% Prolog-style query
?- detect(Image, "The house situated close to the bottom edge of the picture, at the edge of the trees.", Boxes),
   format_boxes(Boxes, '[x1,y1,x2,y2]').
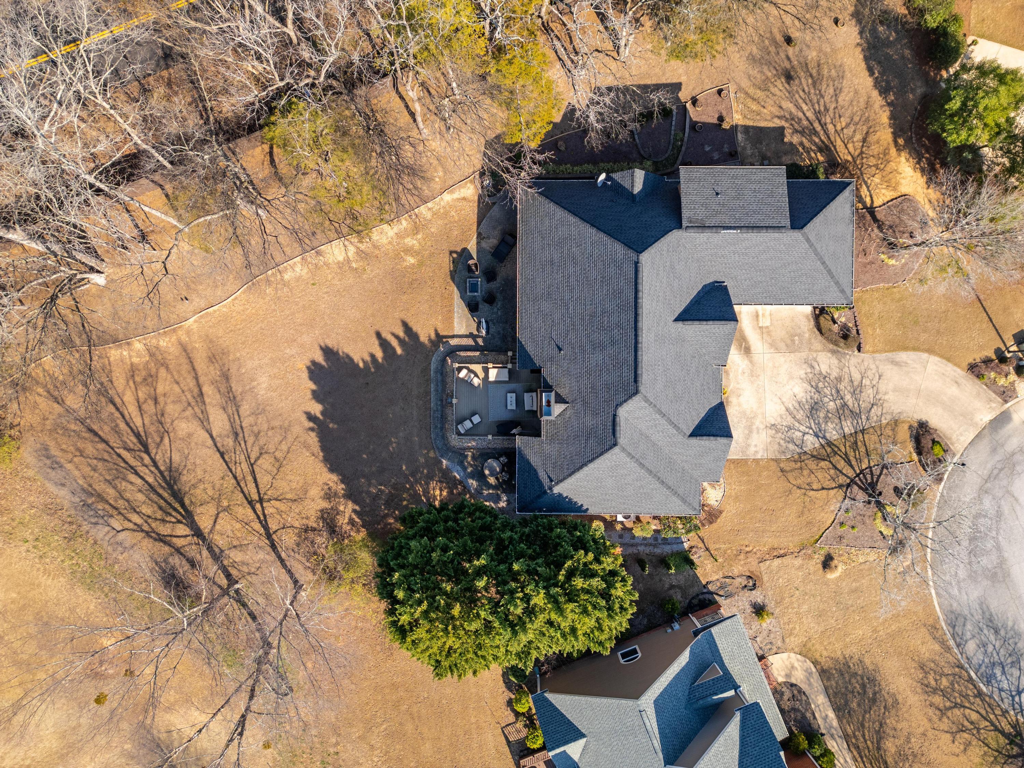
[528,600,832,768]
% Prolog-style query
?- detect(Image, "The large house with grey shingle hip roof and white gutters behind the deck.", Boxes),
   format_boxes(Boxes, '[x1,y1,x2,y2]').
[515,164,857,516]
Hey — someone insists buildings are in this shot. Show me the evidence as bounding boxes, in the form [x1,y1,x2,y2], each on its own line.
[515,164,857,516]
[528,600,832,768]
